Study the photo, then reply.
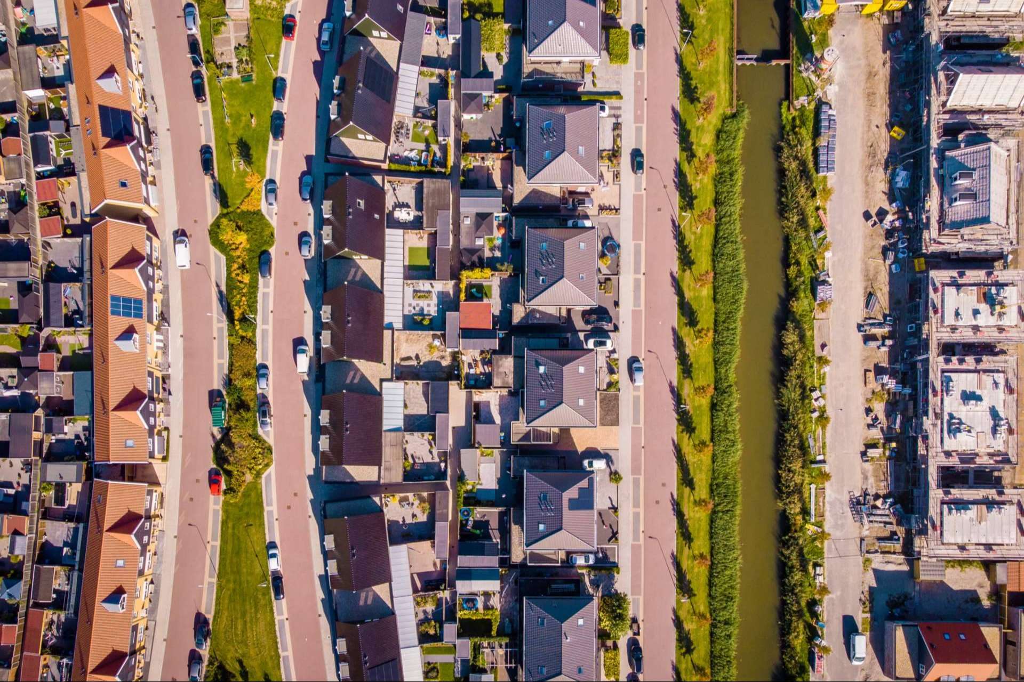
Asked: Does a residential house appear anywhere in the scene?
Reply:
Yes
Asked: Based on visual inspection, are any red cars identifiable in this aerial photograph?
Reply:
Yes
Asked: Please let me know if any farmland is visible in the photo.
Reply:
No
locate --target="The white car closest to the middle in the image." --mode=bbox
[585,337,617,352]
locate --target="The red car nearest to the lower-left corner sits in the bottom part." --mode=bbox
[206,472,222,499]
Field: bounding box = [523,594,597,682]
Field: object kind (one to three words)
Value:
house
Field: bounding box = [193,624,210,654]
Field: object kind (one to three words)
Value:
car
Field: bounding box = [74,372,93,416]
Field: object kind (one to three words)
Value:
shed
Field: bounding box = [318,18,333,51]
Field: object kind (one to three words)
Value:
car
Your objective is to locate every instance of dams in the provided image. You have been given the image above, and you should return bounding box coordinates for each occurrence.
[736,53,790,68]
